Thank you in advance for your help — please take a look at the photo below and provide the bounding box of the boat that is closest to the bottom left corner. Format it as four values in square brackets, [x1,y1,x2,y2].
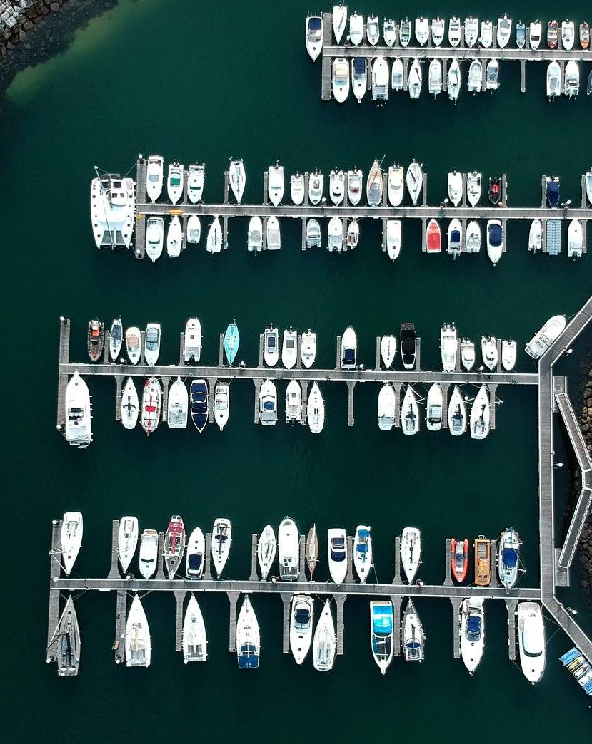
[50,594,86,676]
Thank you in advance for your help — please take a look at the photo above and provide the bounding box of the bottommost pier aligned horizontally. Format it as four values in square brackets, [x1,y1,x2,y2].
[50,578,541,600]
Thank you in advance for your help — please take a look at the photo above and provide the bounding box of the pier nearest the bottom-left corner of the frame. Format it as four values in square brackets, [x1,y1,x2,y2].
[47,590,60,662]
